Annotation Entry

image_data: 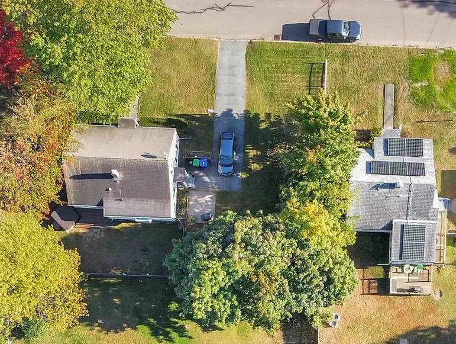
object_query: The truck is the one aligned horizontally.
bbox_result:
[305,14,359,41]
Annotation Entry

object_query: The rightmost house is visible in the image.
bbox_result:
[347,128,456,295]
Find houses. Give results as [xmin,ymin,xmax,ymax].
[53,118,202,225]
[347,128,456,295]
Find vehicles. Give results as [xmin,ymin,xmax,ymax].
[305,14,359,41]
[214,129,235,176]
